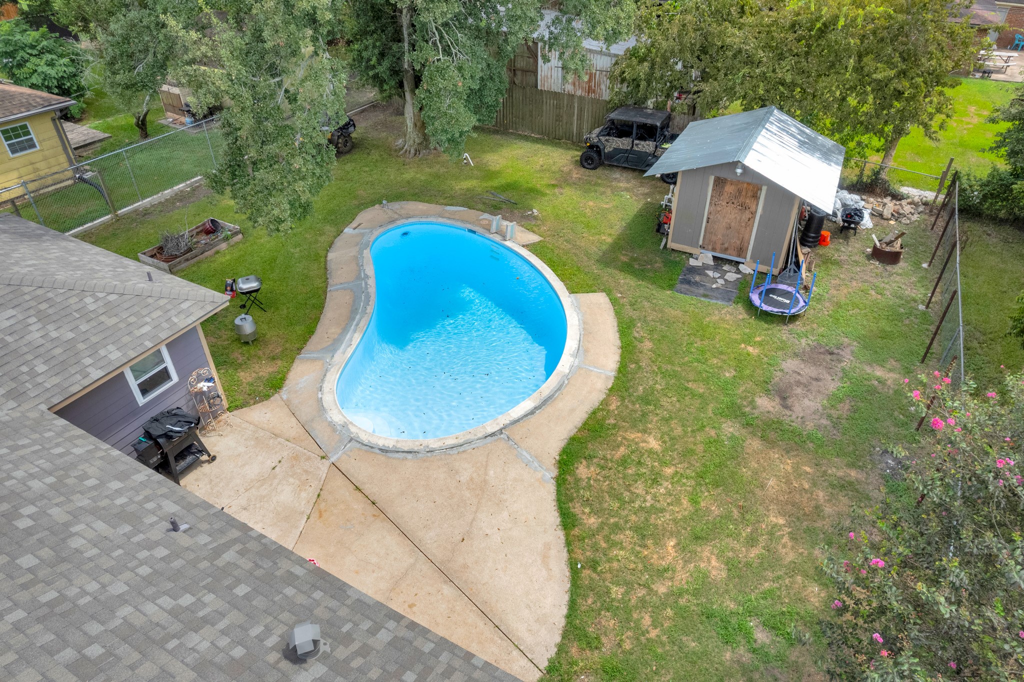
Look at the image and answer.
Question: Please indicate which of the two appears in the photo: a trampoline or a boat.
trampoline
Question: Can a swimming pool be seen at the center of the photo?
Yes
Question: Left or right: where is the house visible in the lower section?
left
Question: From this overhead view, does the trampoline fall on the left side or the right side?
right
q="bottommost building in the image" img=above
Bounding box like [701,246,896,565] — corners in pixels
[0,214,525,682]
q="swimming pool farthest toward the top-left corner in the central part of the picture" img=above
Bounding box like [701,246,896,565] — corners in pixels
[323,216,579,452]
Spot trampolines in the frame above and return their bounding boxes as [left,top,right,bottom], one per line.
[748,251,819,322]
